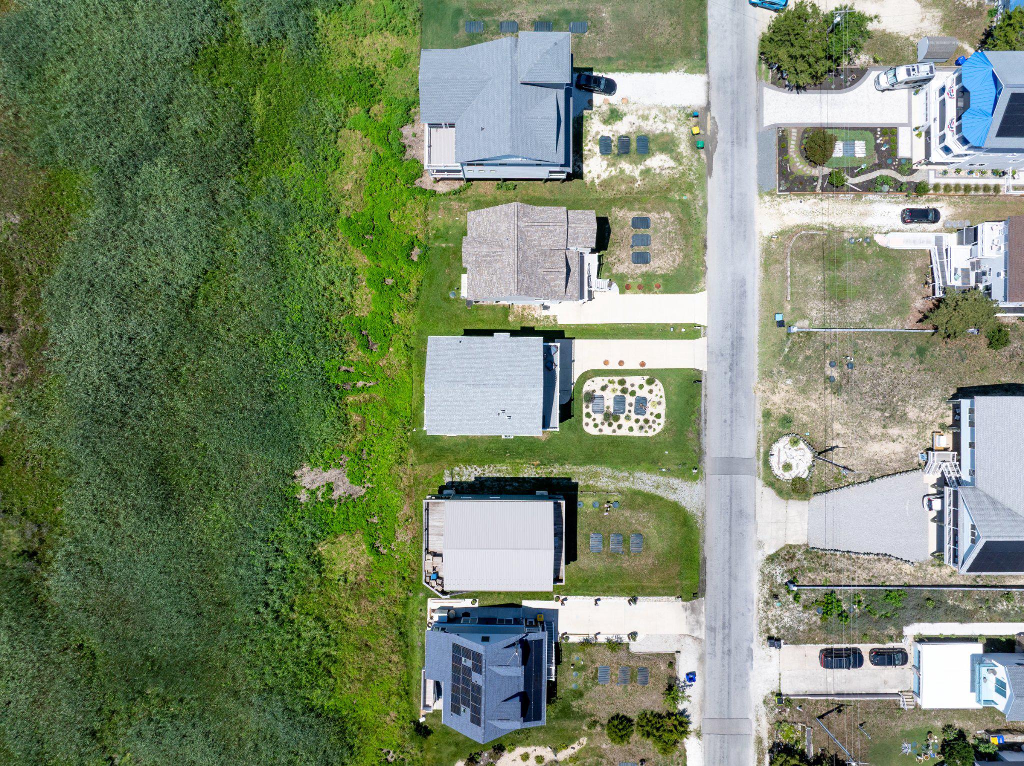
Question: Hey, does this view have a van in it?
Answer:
Yes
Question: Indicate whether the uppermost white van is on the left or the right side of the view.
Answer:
right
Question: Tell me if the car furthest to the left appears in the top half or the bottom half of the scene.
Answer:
top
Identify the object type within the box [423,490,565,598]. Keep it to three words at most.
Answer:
house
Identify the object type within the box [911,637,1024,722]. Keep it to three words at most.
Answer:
house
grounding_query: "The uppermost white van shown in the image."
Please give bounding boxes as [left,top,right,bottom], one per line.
[869,60,940,92]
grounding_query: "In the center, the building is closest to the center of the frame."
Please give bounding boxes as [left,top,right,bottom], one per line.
[415,333,559,435]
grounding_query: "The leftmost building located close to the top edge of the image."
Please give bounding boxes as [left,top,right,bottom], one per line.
[419,32,573,186]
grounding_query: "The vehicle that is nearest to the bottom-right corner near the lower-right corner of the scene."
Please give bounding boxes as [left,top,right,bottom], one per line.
[868,647,907,668]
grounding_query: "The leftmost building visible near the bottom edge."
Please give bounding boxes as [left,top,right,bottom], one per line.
[422,609,557,744]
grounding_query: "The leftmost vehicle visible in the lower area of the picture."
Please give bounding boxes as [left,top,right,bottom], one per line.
[819,647,863,669]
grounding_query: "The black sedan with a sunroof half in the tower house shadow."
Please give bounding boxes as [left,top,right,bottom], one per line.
[574,74,617,98]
